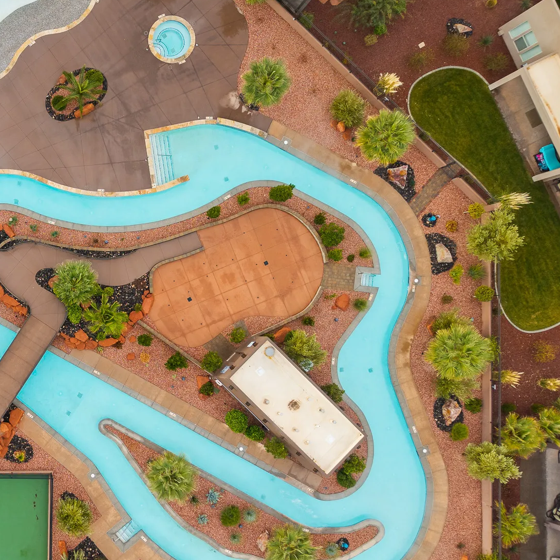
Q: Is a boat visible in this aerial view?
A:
No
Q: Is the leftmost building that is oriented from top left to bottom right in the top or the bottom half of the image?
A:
bottom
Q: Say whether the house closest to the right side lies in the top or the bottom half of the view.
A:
top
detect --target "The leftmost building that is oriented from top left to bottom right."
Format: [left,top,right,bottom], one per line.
[217,338,365,475]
